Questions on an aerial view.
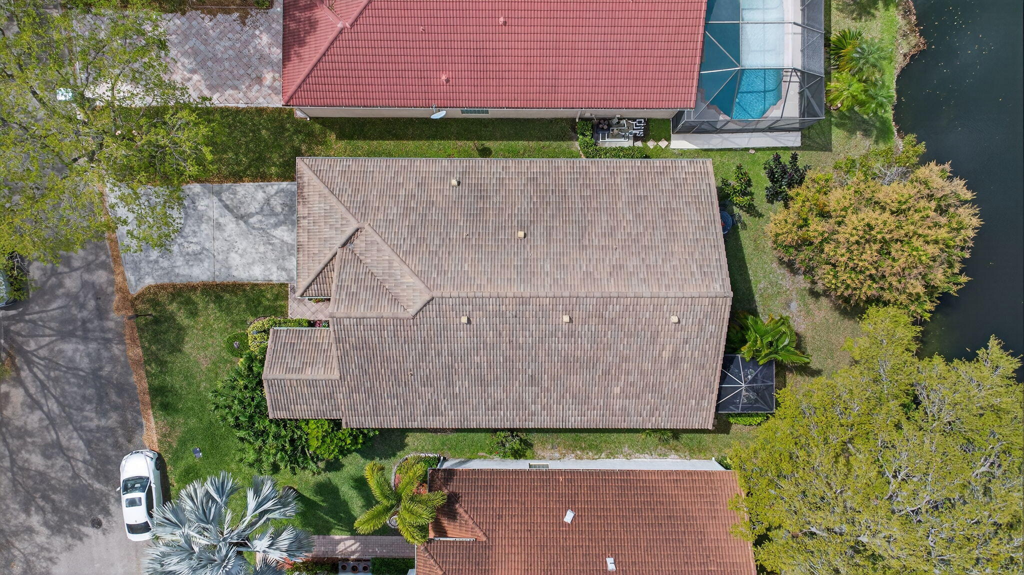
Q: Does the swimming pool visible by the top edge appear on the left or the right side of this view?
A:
right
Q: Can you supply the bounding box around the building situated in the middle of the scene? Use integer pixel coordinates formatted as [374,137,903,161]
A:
[260,157,735,430]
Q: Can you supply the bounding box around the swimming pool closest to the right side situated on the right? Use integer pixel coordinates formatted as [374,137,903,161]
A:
[697,0,791,125]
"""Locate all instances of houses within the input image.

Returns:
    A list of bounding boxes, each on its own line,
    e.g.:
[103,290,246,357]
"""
[260,157,735,430]
[414,455,754,575]
[280,0,708,124]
